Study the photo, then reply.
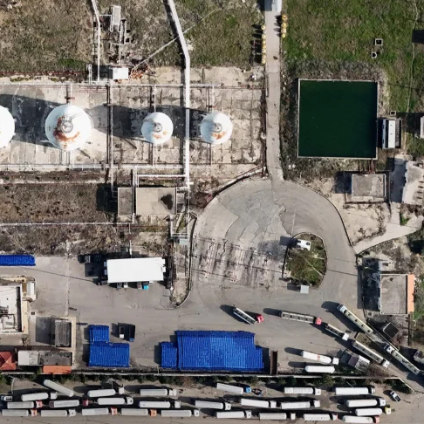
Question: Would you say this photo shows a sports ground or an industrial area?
industrial area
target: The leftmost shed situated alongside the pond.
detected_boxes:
[348,173,386,196]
